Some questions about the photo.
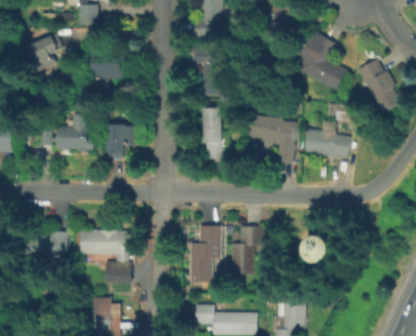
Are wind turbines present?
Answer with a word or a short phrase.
No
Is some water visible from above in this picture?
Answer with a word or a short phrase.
No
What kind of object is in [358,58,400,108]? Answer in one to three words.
house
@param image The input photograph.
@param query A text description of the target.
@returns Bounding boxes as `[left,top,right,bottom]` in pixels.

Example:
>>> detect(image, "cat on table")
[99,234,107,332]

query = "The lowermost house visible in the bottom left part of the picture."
[92,296,122,336]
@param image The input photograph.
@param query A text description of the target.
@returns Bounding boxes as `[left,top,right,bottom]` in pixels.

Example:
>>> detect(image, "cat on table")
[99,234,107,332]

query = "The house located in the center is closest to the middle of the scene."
[201,108,224,158]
